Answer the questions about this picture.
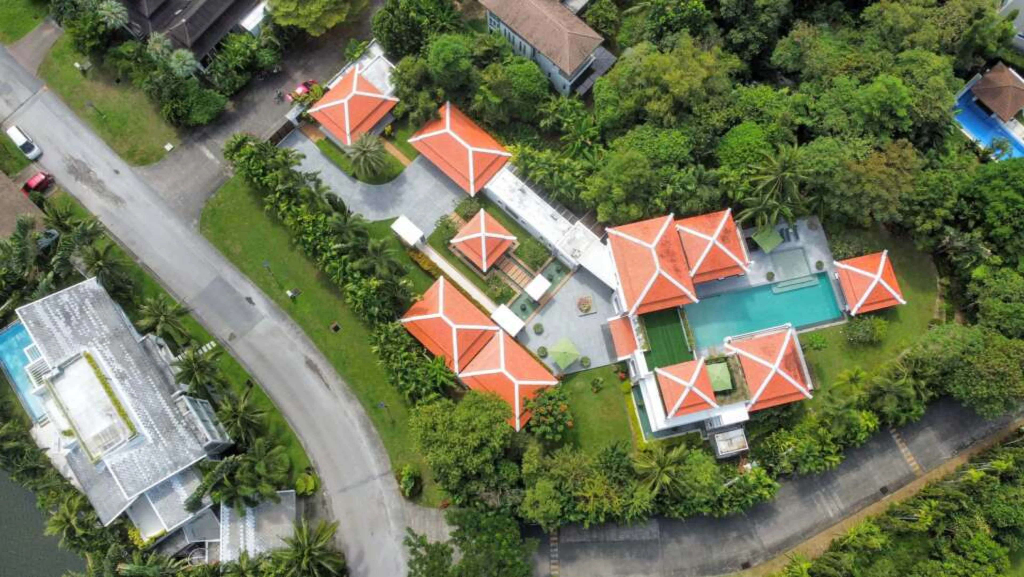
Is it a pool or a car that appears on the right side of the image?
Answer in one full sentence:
Looking on the right side of the image, you will find a pool.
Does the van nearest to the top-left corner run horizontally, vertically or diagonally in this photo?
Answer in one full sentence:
From this overhead view, the van nearest to the top-left corner appears to run diagonally.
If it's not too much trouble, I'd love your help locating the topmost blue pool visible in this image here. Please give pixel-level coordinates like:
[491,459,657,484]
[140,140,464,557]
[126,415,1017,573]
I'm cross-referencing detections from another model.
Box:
[951,83,1024,165]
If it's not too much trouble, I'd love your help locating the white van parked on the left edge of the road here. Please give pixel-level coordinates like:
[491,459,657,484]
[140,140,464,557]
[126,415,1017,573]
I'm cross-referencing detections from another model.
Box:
[4,123,45,163]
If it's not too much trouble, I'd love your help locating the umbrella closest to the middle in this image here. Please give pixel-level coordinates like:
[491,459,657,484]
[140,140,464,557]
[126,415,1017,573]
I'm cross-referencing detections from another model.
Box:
[548,337,579,369]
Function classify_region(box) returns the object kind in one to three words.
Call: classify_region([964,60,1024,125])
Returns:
building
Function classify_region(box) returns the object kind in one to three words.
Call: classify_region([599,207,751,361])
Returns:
house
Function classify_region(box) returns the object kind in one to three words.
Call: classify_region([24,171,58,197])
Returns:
car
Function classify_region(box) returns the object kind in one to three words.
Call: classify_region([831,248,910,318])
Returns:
building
